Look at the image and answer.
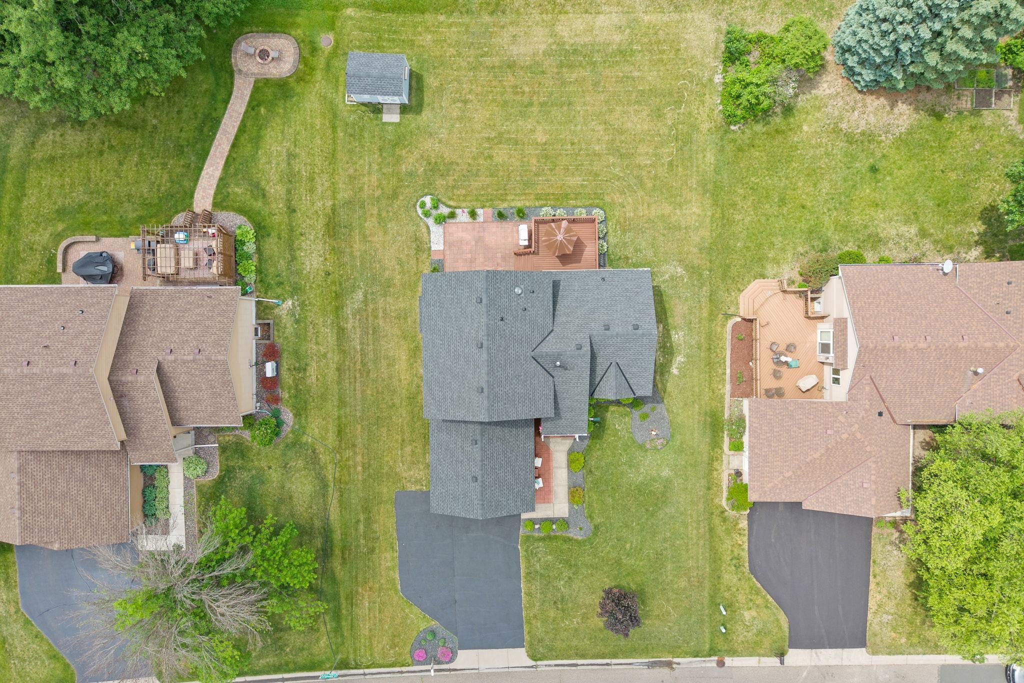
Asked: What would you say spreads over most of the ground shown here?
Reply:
grass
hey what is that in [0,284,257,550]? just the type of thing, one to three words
house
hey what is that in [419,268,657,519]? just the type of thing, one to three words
house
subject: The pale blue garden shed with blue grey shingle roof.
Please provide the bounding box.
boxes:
[345,52,409,104]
